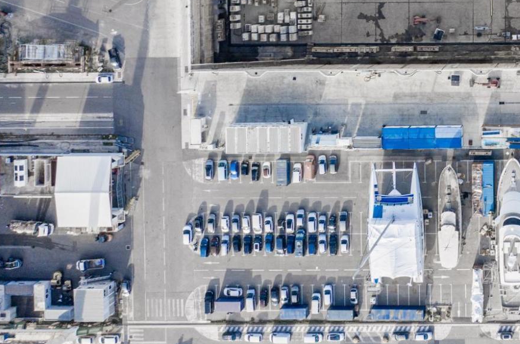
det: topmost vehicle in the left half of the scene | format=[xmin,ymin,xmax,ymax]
[106,48,121,71]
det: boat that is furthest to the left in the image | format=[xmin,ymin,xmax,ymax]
[352,162,426,286]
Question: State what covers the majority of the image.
paved ground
